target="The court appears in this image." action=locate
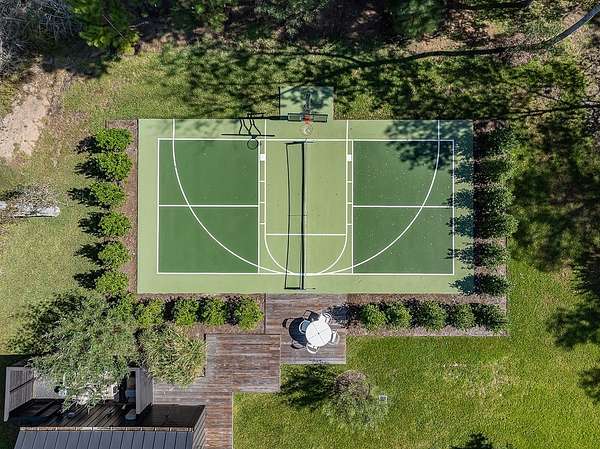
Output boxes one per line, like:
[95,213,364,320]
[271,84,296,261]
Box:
[137,86,473,294]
